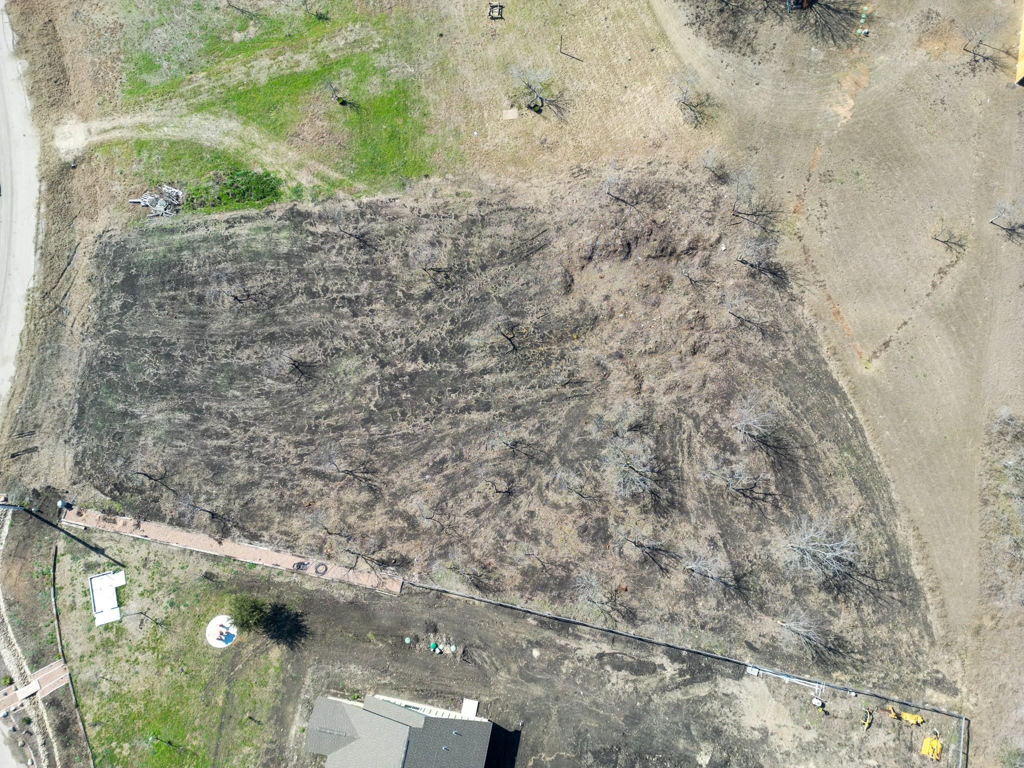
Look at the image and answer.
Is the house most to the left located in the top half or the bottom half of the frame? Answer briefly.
bottom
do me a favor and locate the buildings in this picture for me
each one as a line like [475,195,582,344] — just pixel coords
[1016,0,1024,85]
[305,692,494,768]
